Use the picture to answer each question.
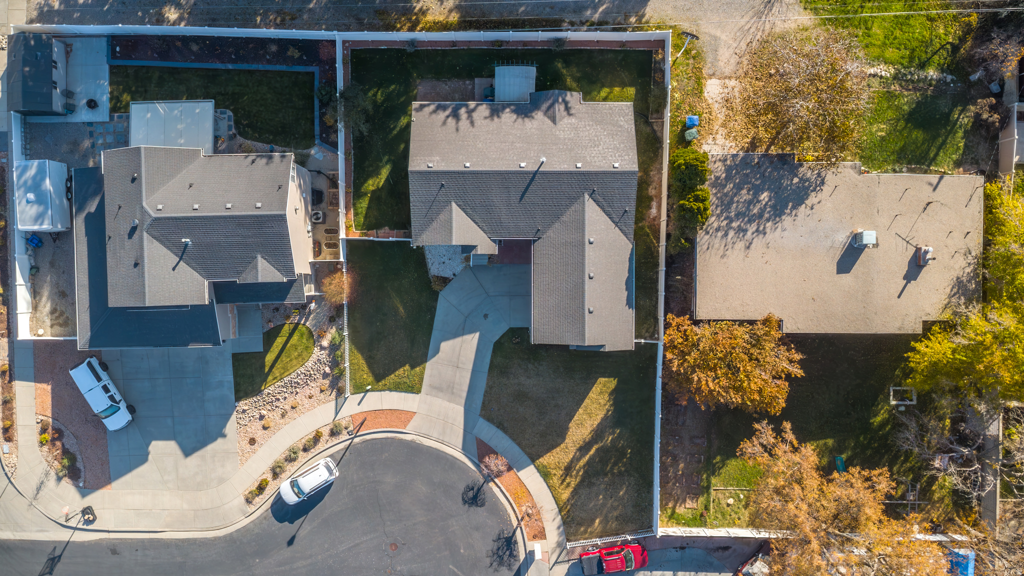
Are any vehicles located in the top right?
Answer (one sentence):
No, I see no vehicle in the top right.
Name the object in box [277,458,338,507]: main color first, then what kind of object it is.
white car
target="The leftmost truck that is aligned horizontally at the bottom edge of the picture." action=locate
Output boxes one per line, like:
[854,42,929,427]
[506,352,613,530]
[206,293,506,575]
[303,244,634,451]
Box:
[578,538,650,575]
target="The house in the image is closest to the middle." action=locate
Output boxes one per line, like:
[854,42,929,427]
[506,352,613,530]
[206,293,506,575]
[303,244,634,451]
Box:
[408,90,639,352]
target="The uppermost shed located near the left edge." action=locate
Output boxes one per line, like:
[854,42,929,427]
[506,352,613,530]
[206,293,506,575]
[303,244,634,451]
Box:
[7,30,66,118]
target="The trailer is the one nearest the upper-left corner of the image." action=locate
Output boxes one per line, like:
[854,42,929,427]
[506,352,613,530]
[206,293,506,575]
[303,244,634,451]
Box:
[14,157,71,248]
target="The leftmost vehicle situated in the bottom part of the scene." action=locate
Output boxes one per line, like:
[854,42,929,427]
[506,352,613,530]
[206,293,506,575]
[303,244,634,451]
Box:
[66,359,128,429]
